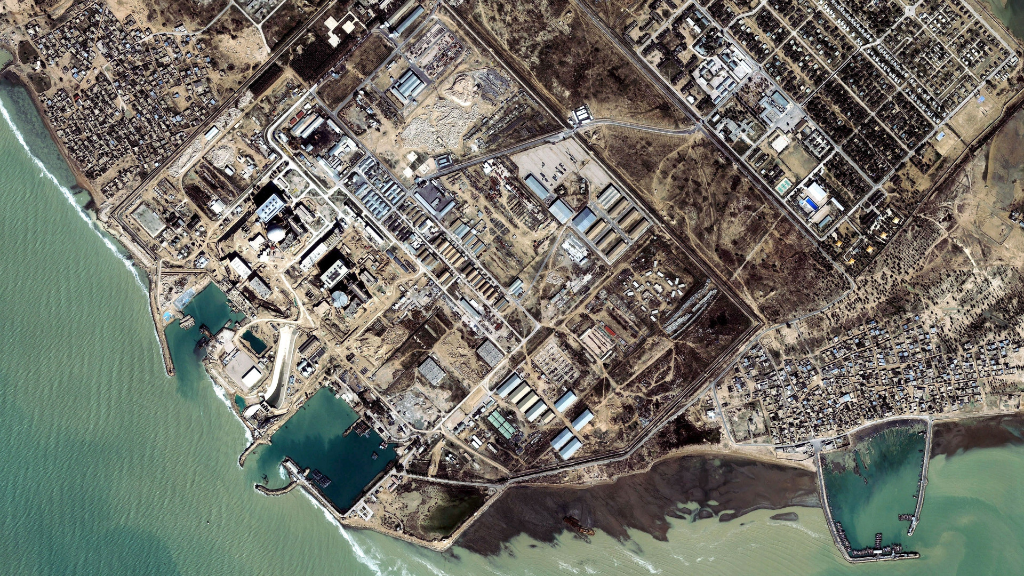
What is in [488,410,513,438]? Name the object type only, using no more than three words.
greenhouse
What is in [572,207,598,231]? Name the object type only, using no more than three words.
building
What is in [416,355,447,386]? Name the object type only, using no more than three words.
building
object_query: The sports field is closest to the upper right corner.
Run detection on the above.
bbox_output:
[950,97,997,141]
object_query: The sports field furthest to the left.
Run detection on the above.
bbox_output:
[779,141,820,180]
